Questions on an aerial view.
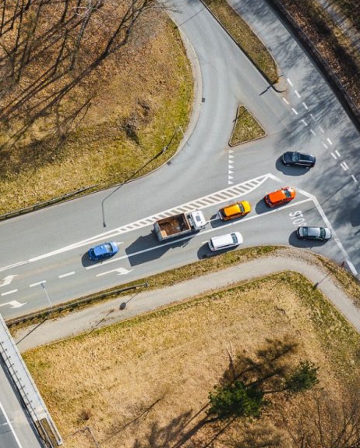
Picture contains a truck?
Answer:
Yes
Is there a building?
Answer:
No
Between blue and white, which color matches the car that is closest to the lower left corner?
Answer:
blue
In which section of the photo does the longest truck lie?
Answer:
center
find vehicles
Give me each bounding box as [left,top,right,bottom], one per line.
[205,231,243,251]
[295,224,331,241]
[262,186,295,207]
[217,200,250,221]
[280,150,317,169]
[87,241,119,262]
[147,206,215,248]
